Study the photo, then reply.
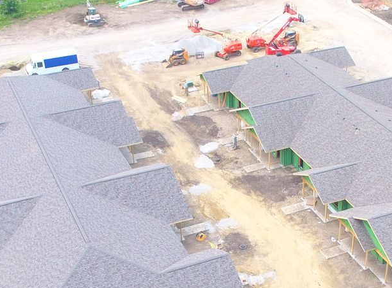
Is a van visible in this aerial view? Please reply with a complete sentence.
Yes, looking at the shot, I can spot a van.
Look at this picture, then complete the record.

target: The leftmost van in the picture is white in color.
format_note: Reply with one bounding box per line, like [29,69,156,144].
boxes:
[24,47,77,75]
